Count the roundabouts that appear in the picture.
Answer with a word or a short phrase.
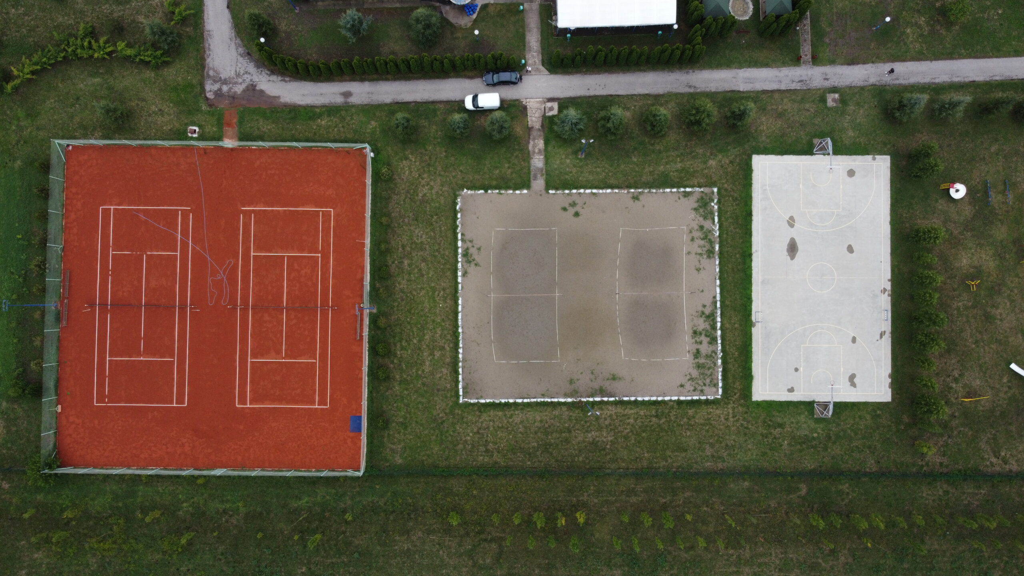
0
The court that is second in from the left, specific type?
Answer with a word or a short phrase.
tennis court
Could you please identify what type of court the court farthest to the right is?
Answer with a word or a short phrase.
basketball court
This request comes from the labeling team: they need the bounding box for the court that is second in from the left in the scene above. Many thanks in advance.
[212,148,368,469]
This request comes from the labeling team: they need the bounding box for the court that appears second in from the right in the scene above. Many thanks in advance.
[588,190,719,399]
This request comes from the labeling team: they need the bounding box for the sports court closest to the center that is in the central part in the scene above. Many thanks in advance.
[461,192,589,400]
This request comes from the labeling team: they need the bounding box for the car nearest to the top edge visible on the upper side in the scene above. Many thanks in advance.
[483,68,521,87]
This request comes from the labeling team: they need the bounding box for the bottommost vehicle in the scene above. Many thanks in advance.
[465,92,502,111]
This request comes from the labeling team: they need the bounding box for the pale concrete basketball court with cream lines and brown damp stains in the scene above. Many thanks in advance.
[752,155,892,401]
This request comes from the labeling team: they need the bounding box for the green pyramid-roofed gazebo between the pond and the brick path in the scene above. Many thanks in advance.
[759,0,792,21]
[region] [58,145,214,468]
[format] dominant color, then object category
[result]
red tennis court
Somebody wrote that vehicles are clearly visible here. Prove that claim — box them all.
[465,92,502,111]
[483,68,521,87]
